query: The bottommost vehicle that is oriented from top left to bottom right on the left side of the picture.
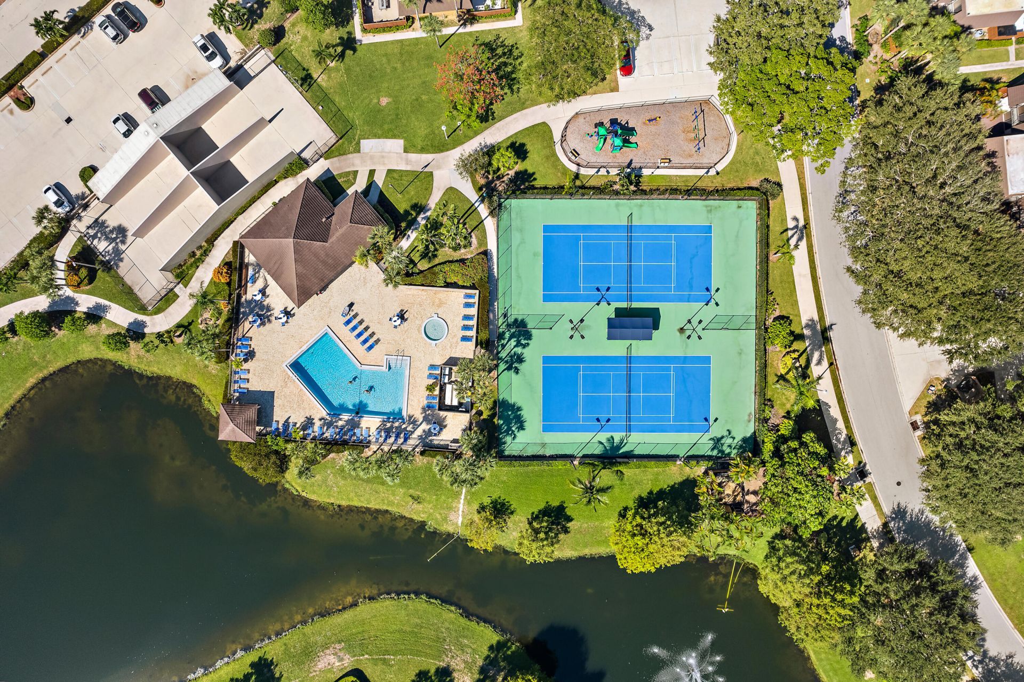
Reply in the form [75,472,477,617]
[42,182,73,213]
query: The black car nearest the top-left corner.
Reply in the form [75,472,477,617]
[111,1,144,35]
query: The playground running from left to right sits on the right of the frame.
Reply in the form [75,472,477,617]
[563,99,732,167]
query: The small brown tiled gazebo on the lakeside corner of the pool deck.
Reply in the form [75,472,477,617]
[217,403,262,443]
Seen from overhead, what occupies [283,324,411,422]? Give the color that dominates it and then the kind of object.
blue swimming pool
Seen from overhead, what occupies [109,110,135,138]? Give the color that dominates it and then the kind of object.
white car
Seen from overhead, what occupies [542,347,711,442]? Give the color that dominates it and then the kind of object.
blue tennis court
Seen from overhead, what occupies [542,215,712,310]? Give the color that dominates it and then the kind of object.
blue tennis court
